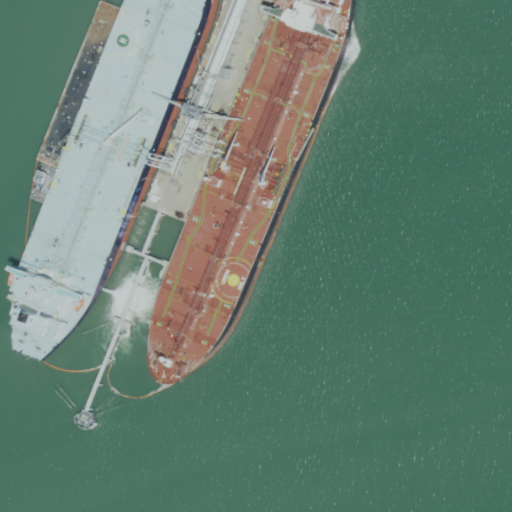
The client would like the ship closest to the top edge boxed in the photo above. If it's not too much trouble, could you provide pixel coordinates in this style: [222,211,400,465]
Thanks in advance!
[37,1,120,167]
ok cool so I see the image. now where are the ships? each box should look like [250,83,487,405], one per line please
[146,0,353,385]
[4,0,220,360]
[37,1,120,167]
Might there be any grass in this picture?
No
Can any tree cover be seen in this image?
No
